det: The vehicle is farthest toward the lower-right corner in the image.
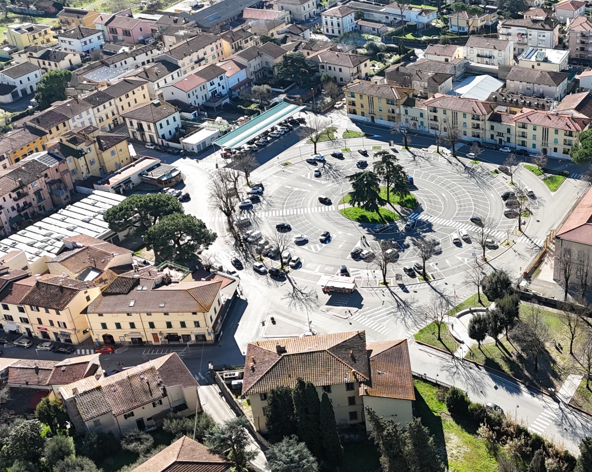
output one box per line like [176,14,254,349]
[487,401,505,416]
